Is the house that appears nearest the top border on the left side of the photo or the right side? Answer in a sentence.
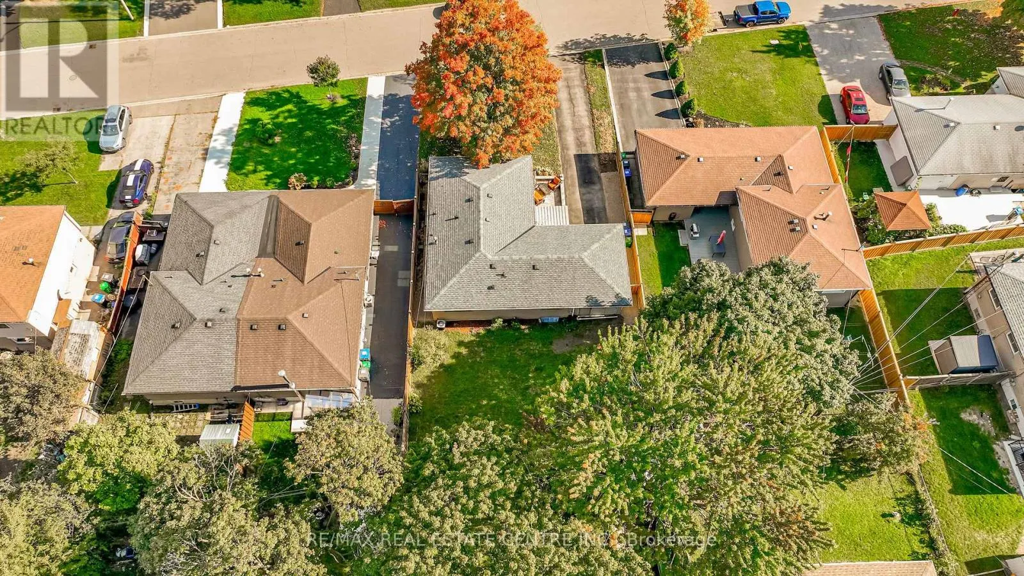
The house that appears nearest the top border appears in the right half of the scene.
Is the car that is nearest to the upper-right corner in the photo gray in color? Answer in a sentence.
Yes, the car that is nearest to the upper-right corner is indeed gray.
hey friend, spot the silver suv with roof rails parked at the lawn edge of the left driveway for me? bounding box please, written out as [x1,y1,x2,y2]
[92,97,133,154]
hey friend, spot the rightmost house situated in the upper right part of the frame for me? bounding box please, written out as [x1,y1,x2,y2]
[885,66,1024,192]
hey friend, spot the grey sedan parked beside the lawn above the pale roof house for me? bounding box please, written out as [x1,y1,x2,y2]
[875,58,915,109]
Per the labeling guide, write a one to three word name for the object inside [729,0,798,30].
truck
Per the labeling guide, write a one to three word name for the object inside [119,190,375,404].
house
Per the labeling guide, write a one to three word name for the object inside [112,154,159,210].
car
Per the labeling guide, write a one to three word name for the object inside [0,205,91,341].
house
